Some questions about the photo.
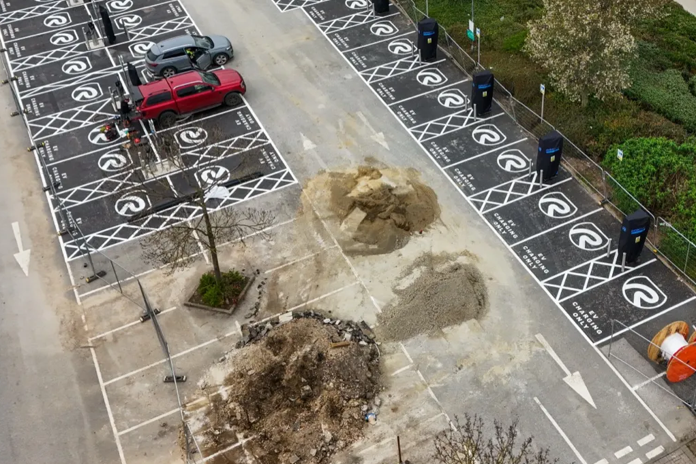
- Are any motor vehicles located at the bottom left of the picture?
No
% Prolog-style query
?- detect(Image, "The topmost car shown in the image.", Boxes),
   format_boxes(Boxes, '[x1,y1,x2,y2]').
[140,36,231,83]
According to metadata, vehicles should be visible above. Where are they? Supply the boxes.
[117,68,247,127]
[140,36,231,83]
